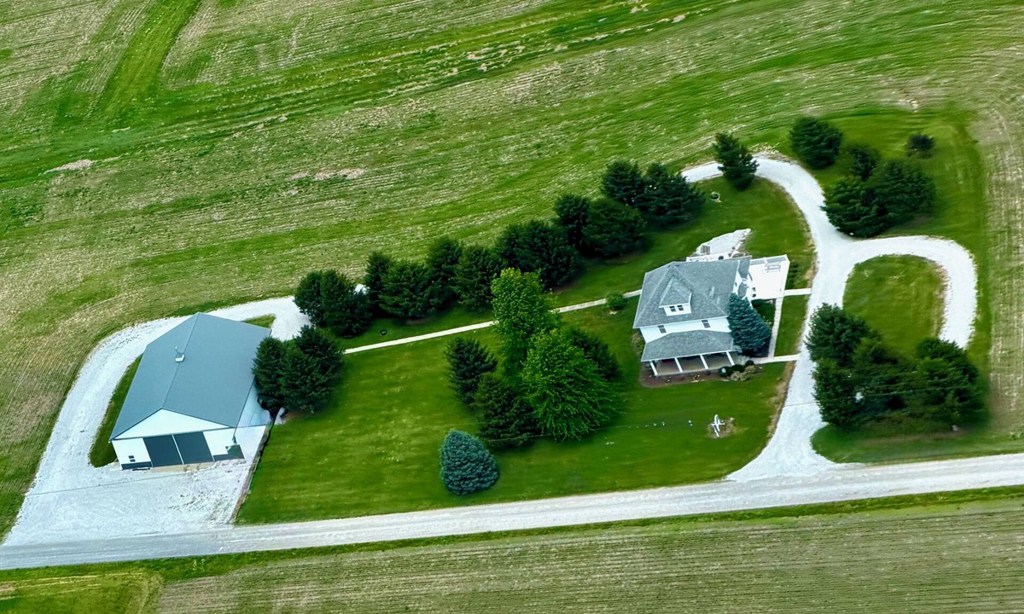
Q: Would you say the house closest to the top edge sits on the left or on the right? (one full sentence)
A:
You can find the house closest to the top edge on the right side of the picture.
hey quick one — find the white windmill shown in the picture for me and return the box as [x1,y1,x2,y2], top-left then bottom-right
[709,414,723,435]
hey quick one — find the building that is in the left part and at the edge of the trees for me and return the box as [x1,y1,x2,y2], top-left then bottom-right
[107,310,275,469]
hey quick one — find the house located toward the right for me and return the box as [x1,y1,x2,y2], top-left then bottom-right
[633,250,791,382]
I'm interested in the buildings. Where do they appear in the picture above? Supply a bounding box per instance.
[633,250,791,382]
[107,310,275,469]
